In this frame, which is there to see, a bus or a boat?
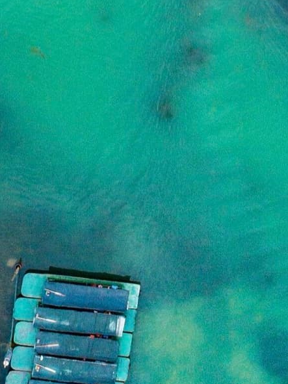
boat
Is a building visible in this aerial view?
No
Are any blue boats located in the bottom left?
Yes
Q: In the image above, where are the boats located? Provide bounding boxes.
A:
[21,274,140,310]
[11,346,131,384]
[13,322,133,359]
[5,371,126,384]
[13,297,138,335]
